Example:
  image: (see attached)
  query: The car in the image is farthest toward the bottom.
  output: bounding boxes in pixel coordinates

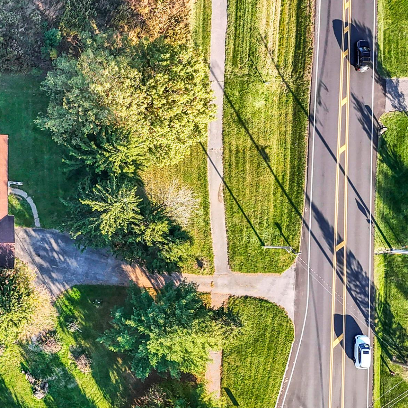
[354,336,373,370]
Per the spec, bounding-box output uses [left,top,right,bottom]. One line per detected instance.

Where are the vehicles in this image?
[354,336,373,370]
[357,38,377,72]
